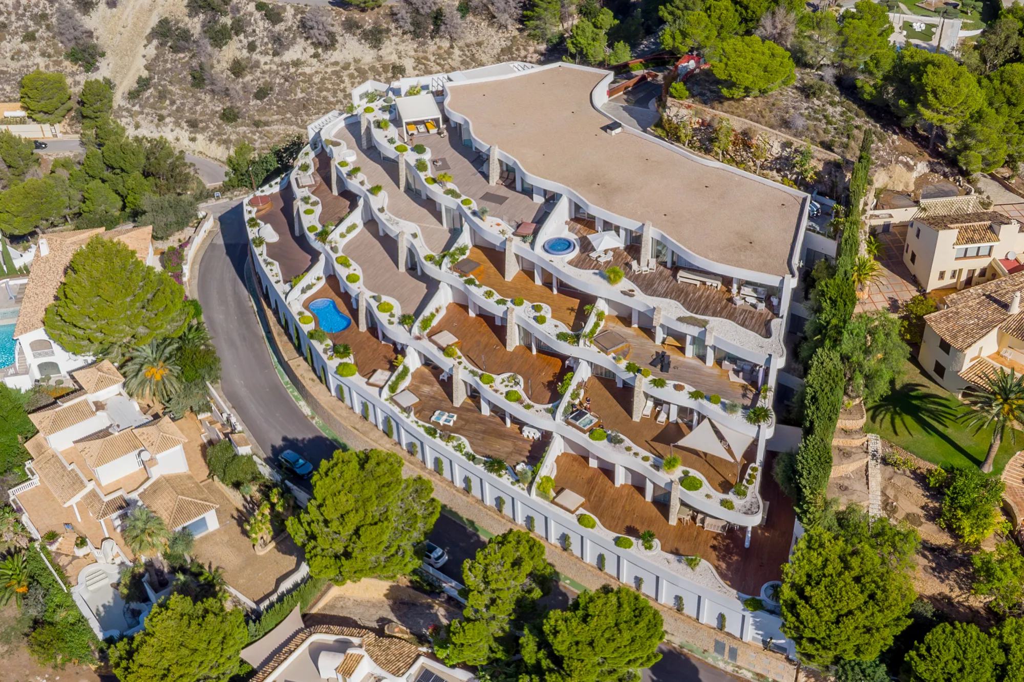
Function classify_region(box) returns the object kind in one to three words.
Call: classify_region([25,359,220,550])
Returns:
house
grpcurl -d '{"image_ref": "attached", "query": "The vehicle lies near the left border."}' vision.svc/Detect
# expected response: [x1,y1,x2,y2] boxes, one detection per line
[17,140,51,153]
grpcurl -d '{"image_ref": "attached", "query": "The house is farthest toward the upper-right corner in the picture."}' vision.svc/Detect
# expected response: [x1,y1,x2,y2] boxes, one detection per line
[905,203,1024,306]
